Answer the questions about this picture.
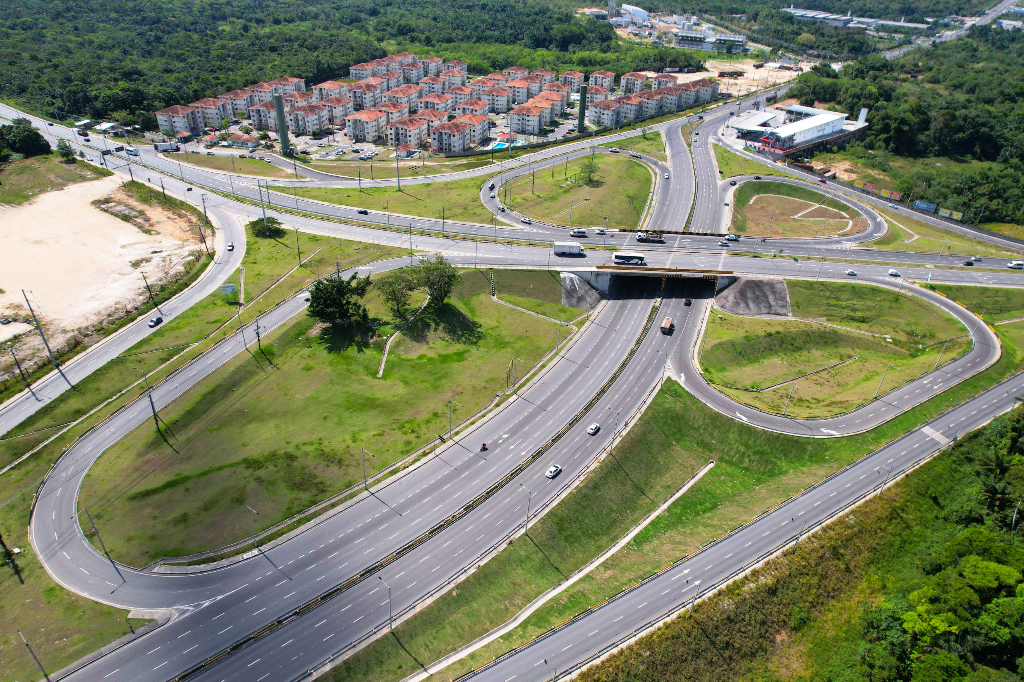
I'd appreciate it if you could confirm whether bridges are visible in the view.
Yes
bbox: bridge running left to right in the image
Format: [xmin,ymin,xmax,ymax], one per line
[554,229,791,316]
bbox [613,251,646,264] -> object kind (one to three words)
vehicle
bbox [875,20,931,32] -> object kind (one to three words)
building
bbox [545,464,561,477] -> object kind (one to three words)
vehicle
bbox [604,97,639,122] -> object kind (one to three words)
building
